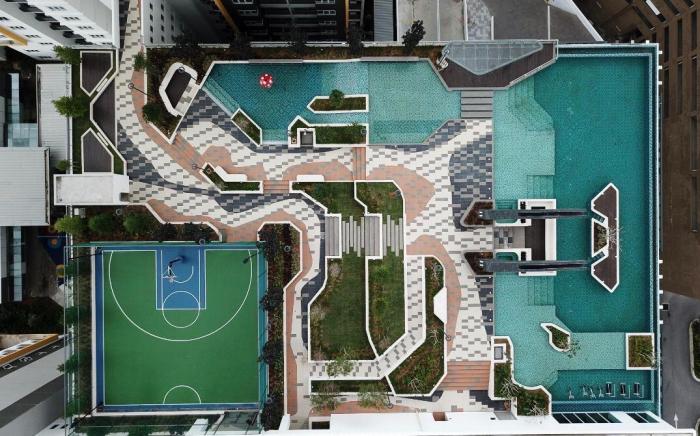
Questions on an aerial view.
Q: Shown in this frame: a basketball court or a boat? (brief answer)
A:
basketball court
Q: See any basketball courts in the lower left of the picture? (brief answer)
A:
Yes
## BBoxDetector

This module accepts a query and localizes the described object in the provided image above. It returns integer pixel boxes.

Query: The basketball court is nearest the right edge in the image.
[92,243,265,415]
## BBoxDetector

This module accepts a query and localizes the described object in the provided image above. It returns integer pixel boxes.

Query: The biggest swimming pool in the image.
[202,40,665,422]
